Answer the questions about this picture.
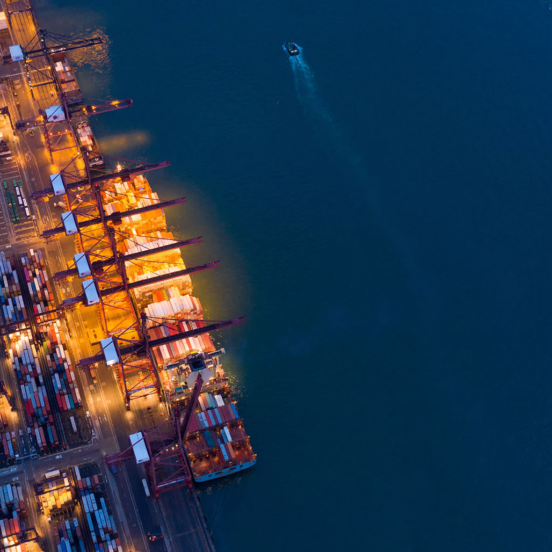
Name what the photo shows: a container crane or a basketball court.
container crane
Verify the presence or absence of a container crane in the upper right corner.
No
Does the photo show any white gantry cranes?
No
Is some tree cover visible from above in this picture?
No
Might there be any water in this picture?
Yes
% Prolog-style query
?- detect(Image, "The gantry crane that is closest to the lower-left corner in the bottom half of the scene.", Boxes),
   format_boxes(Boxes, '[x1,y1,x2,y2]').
[0,526,43,552]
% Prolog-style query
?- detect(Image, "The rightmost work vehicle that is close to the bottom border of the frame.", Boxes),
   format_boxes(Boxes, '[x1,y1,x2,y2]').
[149,526,168,544]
